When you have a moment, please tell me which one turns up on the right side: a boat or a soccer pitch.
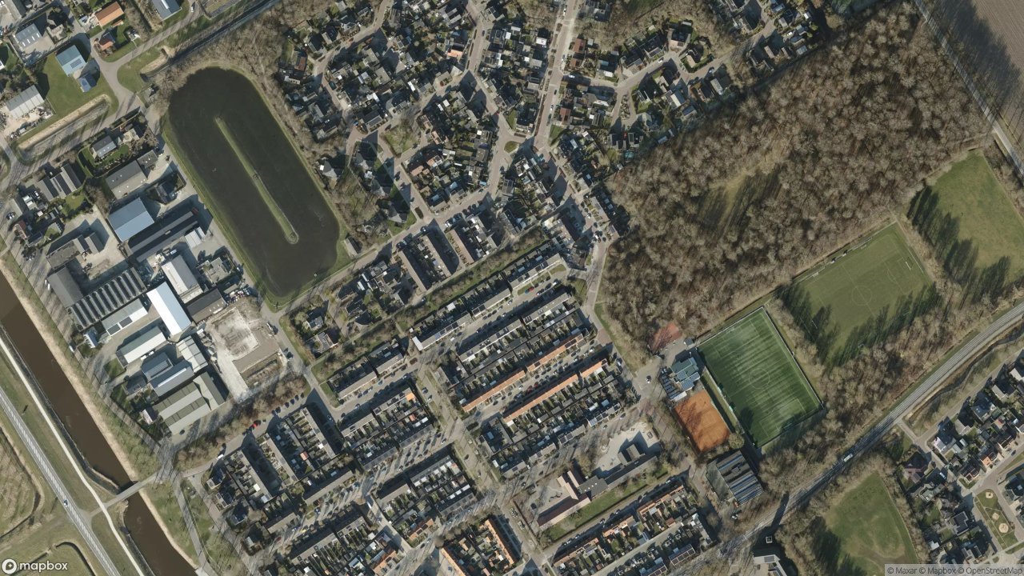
soccer pitch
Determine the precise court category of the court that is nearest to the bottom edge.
tennis court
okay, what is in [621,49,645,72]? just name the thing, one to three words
house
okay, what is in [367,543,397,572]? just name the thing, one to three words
building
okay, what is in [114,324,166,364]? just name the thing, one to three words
building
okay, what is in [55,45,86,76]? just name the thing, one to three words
barn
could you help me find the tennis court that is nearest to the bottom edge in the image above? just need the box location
[675,391,731,452]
